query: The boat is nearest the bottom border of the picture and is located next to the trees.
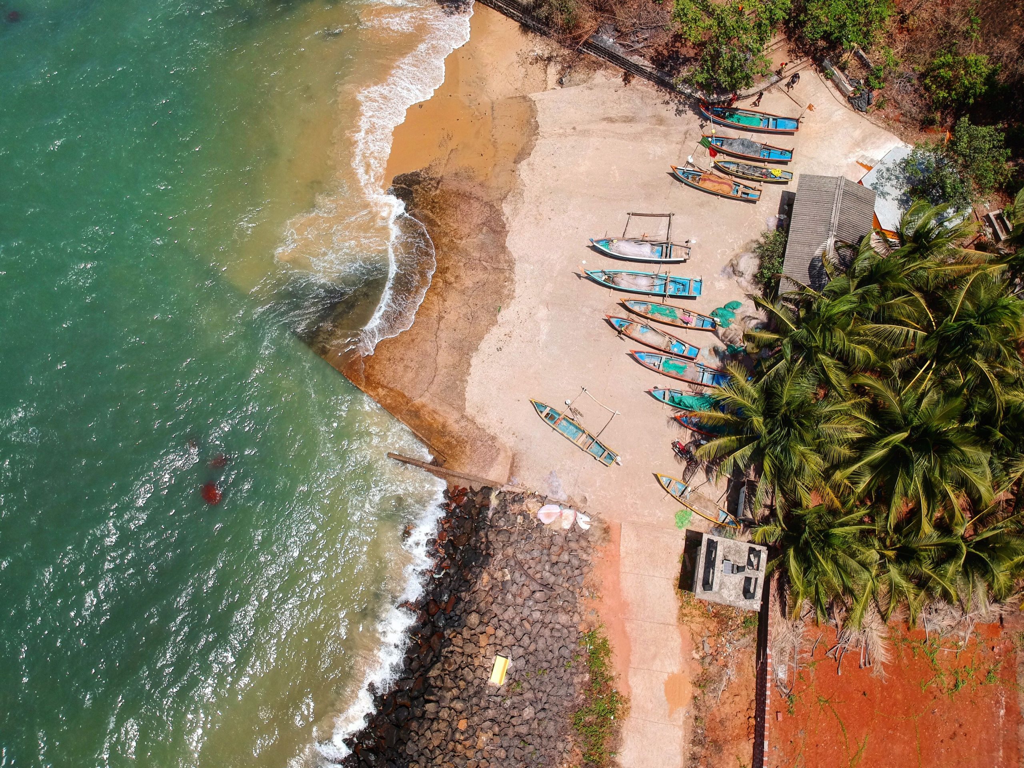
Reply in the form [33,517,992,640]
[657,462,742,529]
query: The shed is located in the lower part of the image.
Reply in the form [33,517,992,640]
[684,524,767,611]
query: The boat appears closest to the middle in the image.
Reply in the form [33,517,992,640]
[530,387,621,466]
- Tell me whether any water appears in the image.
Yes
